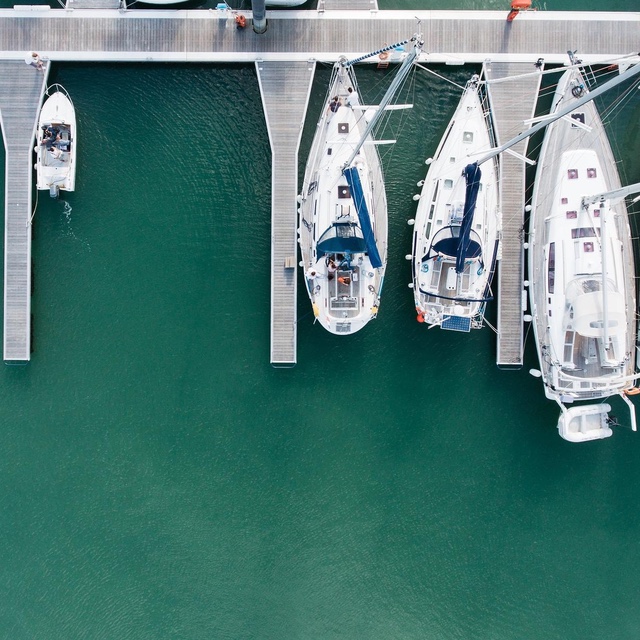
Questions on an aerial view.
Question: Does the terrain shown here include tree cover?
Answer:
No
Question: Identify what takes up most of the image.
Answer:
water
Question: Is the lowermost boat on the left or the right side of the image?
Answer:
right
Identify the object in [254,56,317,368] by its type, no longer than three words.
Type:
pier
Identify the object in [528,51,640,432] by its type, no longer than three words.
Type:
boat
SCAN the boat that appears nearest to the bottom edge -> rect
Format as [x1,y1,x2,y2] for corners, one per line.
[558,404,618,442]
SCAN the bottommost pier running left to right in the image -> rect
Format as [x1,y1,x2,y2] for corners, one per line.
[0,10,640,63]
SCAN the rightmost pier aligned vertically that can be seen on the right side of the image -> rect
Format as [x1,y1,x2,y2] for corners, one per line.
[483,56,546,370]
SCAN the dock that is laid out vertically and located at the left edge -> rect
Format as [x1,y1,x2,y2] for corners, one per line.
[0,56,50,365]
